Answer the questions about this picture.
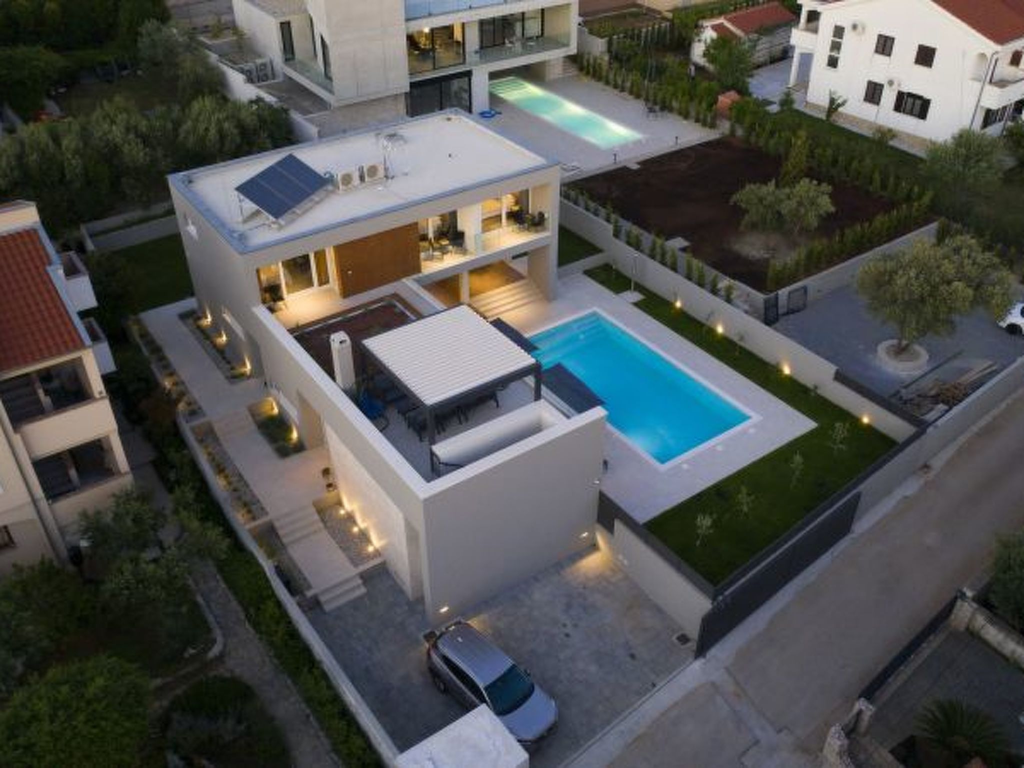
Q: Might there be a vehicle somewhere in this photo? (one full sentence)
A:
Yes, looking at the shot, I can spot a vehicle.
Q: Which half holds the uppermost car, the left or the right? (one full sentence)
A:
You can find the uppermost car on the right side of the picture.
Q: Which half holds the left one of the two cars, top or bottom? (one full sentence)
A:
The left one of the two cars is in the bottom half of the image.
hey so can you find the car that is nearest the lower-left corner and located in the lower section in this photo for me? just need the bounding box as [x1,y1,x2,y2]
[427,624,560,756]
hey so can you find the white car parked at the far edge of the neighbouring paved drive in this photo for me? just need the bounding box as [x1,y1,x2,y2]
[1004,293,1024,329]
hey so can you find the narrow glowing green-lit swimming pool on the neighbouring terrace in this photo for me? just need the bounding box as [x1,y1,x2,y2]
[488,78,643,149]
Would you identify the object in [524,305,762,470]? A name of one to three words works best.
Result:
swimming pool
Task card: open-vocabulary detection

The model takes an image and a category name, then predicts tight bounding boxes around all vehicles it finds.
[1004,293,1024,329]
[427,624,560,756]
